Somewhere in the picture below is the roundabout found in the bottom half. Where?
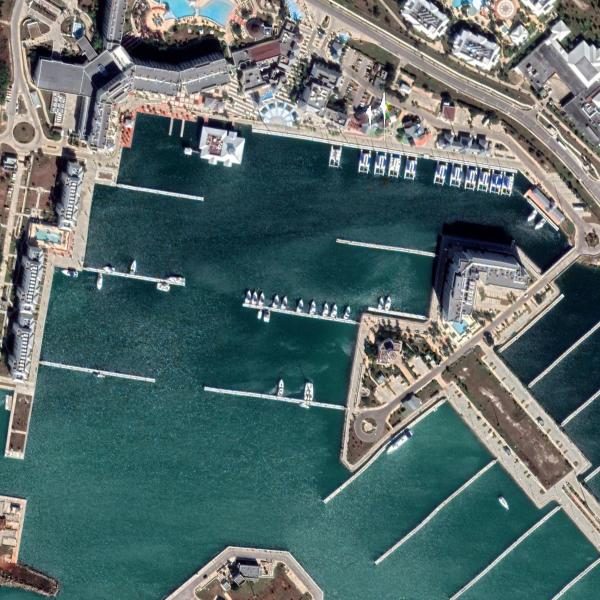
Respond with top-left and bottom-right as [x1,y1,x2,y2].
[353,411,384,442]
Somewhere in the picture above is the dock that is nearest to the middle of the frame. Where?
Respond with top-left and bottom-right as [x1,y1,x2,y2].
[241,302,359,324]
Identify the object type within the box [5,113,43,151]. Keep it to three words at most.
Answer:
roundabout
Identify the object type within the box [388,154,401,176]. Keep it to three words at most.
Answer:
boat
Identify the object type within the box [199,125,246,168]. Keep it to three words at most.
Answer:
building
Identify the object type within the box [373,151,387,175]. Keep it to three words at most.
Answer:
boat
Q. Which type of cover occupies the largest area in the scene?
water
